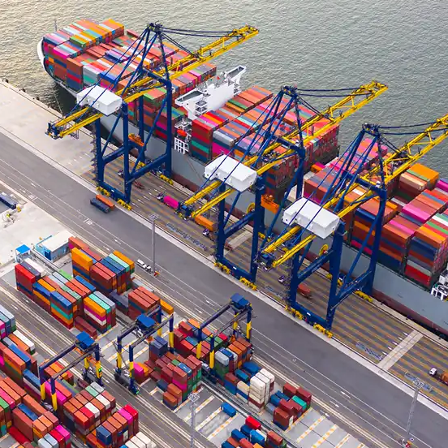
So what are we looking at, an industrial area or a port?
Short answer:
port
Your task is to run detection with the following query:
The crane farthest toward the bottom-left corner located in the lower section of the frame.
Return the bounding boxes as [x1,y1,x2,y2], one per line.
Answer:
[37,332,101,425]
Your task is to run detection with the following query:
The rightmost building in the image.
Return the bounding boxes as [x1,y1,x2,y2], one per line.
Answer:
[33,223,86,264]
